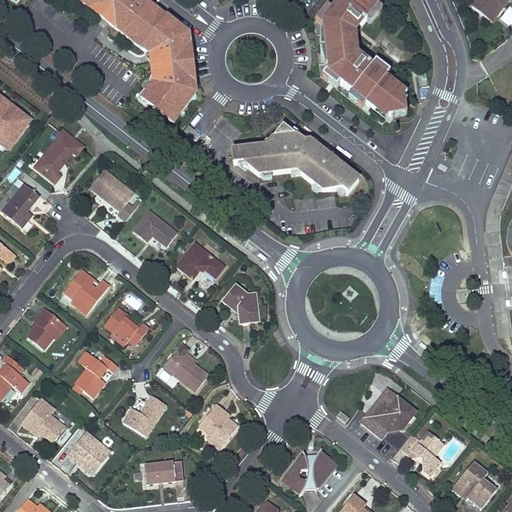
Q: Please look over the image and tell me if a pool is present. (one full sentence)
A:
Yes, the image includes a pool.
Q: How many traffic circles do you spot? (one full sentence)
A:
In total, there are 2 traffic circles in the scene.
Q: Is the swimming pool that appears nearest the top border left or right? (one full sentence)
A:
The swimming pool that appears nearest the top border sits on the left side.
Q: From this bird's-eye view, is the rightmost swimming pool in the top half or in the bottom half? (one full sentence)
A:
It is in the bottom half that the rightmost swimming pool appears.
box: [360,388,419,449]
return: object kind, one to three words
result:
house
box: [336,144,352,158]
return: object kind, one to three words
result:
vehicle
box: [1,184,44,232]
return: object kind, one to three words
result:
house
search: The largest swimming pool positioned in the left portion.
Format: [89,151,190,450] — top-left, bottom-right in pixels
[4,165,24,185]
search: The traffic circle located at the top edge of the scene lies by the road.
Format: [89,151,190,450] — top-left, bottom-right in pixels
[210,18,292,100]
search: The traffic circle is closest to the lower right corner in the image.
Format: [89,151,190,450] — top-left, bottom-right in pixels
[286,247,399,360]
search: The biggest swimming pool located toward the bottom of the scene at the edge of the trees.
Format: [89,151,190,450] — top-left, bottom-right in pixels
[438,437,465,468]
